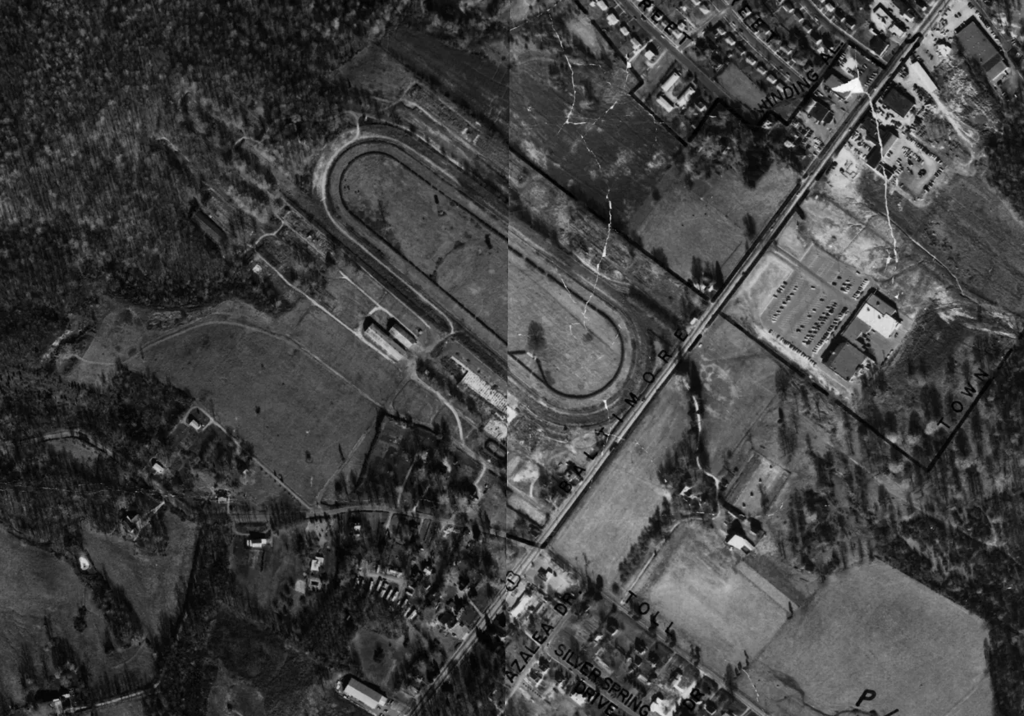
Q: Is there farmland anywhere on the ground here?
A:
Yes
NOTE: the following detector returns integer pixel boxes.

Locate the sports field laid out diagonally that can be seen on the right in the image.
[719,65,767,110]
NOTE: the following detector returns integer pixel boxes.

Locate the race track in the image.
[313,126,640,427]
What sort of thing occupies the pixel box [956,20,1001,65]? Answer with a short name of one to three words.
building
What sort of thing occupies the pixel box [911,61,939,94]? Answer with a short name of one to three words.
shed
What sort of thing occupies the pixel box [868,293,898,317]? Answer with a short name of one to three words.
building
